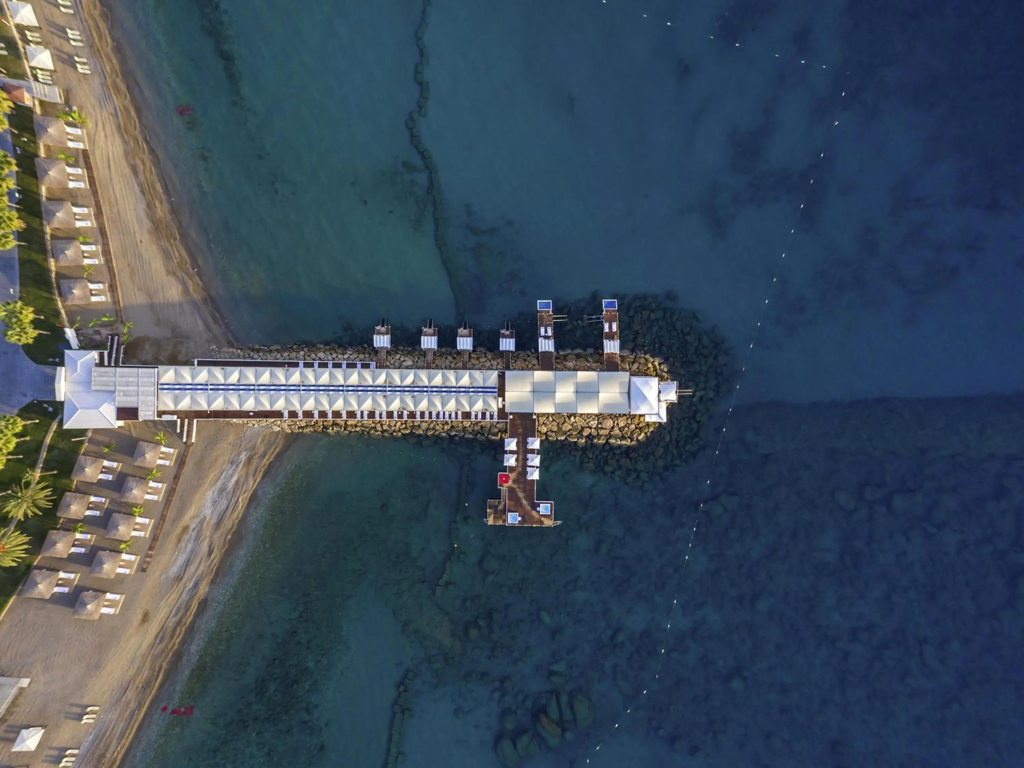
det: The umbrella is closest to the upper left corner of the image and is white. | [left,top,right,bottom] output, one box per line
[7,1,38,26]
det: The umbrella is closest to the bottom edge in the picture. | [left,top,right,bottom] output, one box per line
[11,729,44,751]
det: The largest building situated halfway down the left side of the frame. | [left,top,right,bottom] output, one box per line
[55,350,129,429]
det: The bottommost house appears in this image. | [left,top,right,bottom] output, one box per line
[0,675,35,721]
